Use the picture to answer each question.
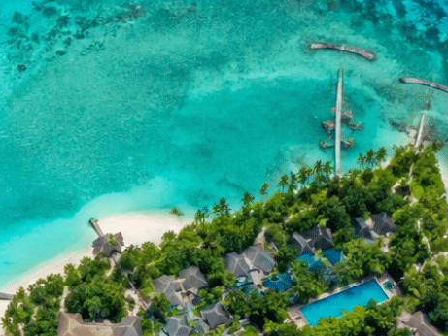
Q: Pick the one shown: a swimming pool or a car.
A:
swimming pool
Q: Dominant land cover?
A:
water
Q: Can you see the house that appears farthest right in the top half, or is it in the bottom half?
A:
bottom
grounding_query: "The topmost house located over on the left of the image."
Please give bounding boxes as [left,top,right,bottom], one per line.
[91,235,122,261]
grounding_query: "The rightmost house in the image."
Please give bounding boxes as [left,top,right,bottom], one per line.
[390,314,439,336]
